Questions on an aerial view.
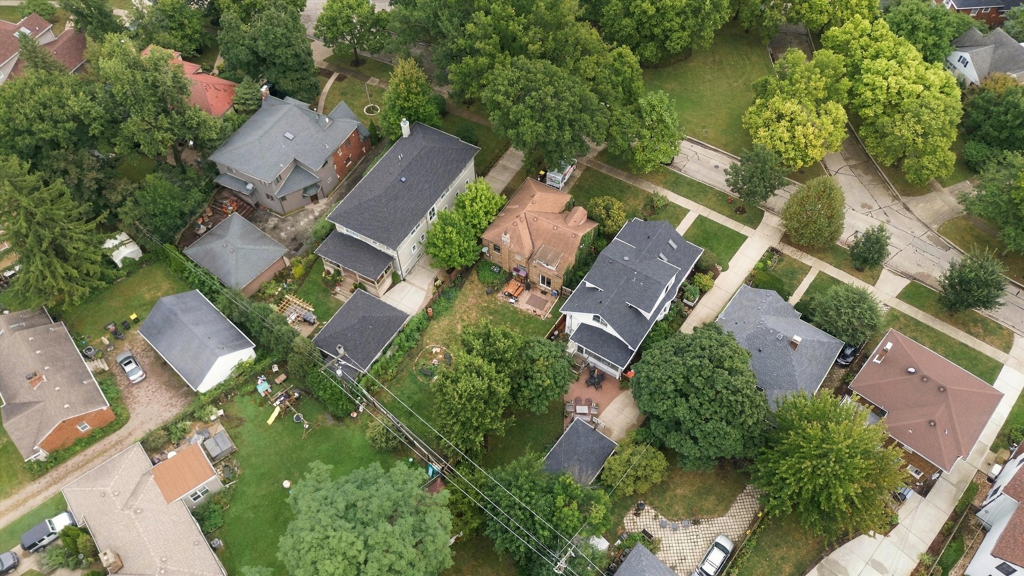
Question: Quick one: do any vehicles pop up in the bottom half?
Yes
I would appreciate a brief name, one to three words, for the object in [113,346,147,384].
car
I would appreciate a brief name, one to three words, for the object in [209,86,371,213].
house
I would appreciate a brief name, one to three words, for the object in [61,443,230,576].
house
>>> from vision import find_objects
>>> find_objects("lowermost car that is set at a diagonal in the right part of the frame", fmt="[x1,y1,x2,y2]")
[698,532,739,576]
